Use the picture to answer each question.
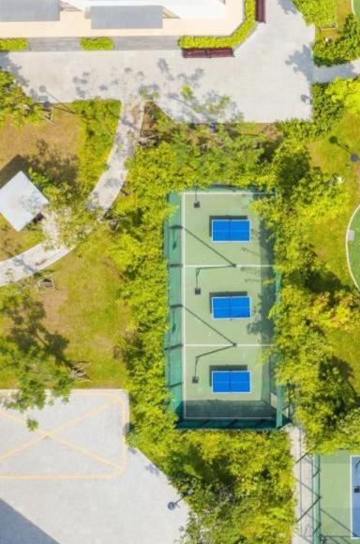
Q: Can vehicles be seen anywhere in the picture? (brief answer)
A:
No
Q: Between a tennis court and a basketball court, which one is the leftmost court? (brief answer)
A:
tennis court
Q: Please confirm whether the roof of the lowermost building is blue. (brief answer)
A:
No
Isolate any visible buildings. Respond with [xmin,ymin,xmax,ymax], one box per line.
[0,0,225,29]
[0,171,65,231]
